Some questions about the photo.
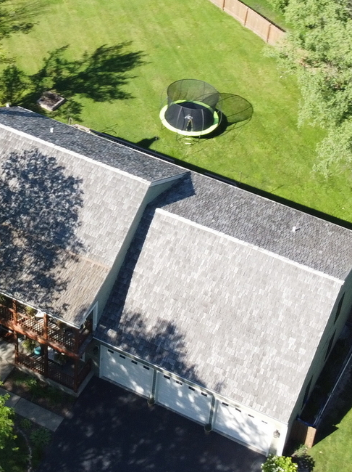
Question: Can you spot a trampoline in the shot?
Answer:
Yes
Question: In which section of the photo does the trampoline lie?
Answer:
top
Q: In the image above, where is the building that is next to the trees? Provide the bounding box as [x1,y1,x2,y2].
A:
[0,108,352,458]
